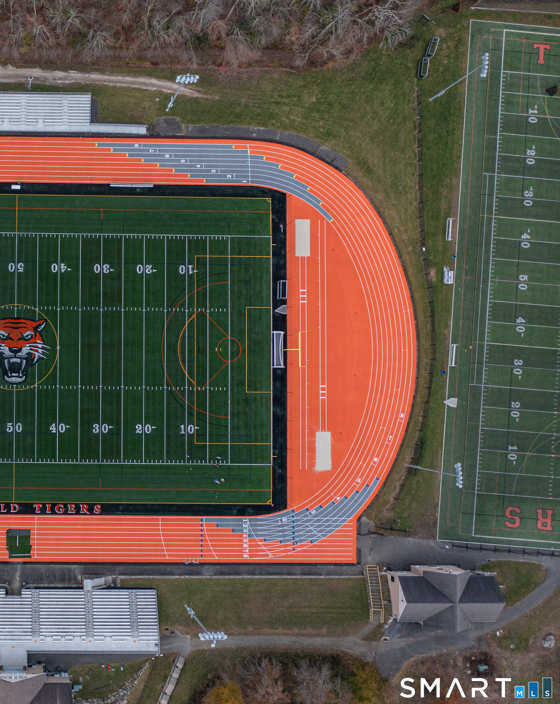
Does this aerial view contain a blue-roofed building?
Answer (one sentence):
No, no blue-roofed building can be seen from above.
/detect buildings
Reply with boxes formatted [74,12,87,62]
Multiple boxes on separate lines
[0,662,72,704]
[388,565,505,634]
